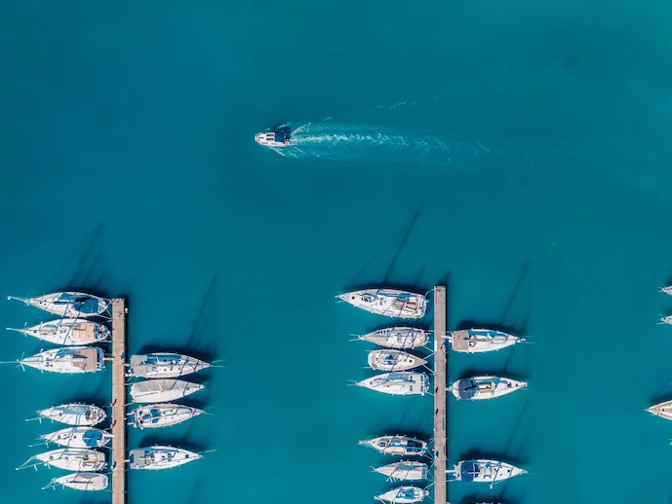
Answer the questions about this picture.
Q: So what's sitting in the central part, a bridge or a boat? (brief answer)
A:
boat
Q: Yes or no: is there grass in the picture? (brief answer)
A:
No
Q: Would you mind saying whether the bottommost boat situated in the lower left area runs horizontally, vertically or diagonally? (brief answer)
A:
horizontally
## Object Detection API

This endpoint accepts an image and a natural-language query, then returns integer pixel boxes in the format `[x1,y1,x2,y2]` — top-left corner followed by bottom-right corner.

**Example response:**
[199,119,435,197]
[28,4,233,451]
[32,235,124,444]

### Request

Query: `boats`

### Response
[369,485,435,504]
[124,400,216,429]
[19,447,112,472]
[46,470,113,491]
[444,326,528,353]
[30,401,113,426]
[253,130,295,146]
[32,425,114,449]
[358,325,434,349]
[123,376,216,404]
[370,458,436,482]
[347,371,435,397]
[124,351,218,380]
[337,285,432,315]
[357,432,435,457]
[122,444,211,472]
[444,373,536,399]
[2,344,114,374]
[444,458,537,486]
[361,348,434,372]
[9,318,113,348]
[642,401,672,421]
[493,335,509,344]
[13,288,113,318]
